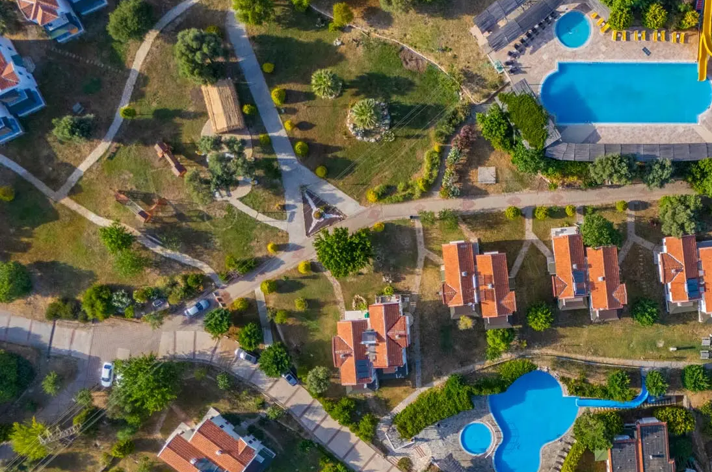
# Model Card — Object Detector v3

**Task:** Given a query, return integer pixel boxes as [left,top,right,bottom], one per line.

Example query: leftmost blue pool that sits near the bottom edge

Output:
[459,421,494,456]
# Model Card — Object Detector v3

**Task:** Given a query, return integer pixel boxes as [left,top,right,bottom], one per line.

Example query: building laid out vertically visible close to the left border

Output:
[0,30,50,139]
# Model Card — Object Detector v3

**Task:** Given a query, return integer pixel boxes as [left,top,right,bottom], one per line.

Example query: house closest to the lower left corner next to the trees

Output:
[156,405,280,472]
